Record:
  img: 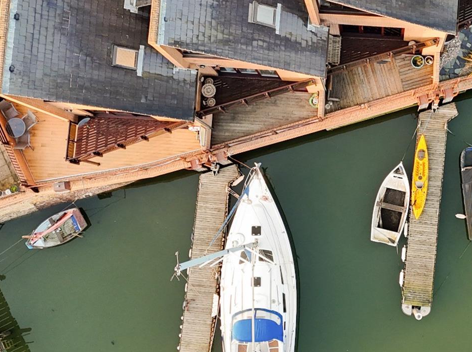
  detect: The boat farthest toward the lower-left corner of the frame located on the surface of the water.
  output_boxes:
[23,209,91,252]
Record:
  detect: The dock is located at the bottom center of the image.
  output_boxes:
[178,164,241,352]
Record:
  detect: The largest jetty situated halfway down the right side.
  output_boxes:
[400,103,458,317]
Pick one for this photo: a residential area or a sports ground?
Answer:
residential area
